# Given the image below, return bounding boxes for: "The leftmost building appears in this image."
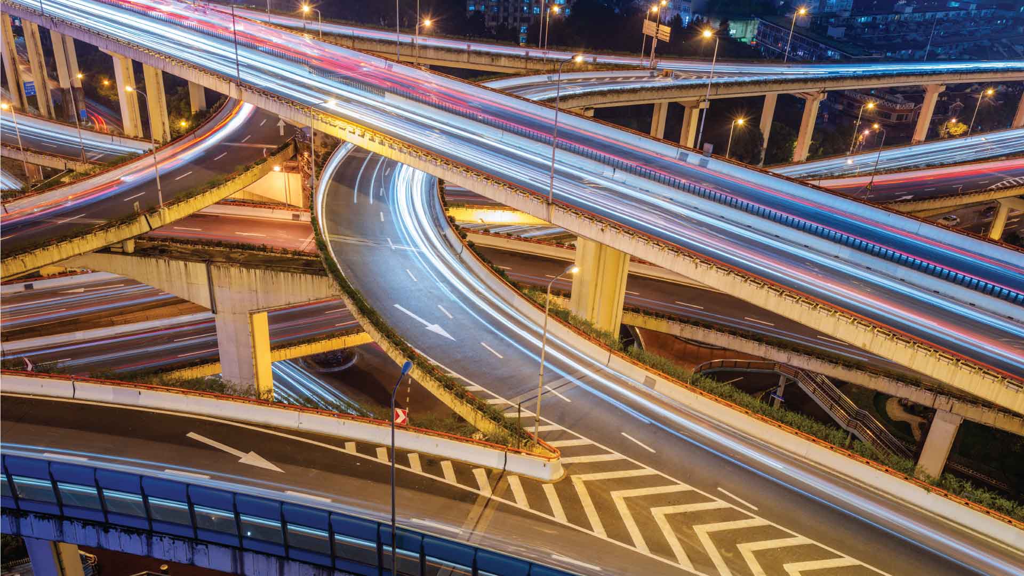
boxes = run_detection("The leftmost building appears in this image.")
[486,0,557,37]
